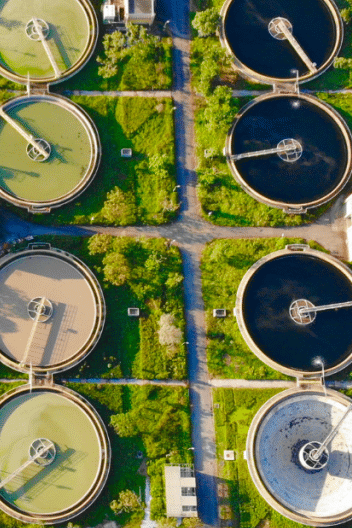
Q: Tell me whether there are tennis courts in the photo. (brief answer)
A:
No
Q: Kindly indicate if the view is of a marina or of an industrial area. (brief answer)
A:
industrial area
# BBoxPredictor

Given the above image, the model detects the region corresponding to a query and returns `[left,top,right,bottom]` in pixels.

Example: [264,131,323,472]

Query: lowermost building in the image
[162,460,199,516]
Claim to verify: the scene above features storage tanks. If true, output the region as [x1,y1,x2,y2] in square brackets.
[0,0,99,98]
[0,372,111,523]
[216,0,342,107]
[0,92,103,218]
[230,239,352,395]
[220,92,352,217]
[0,238,107,395]
[240,374,352,525]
